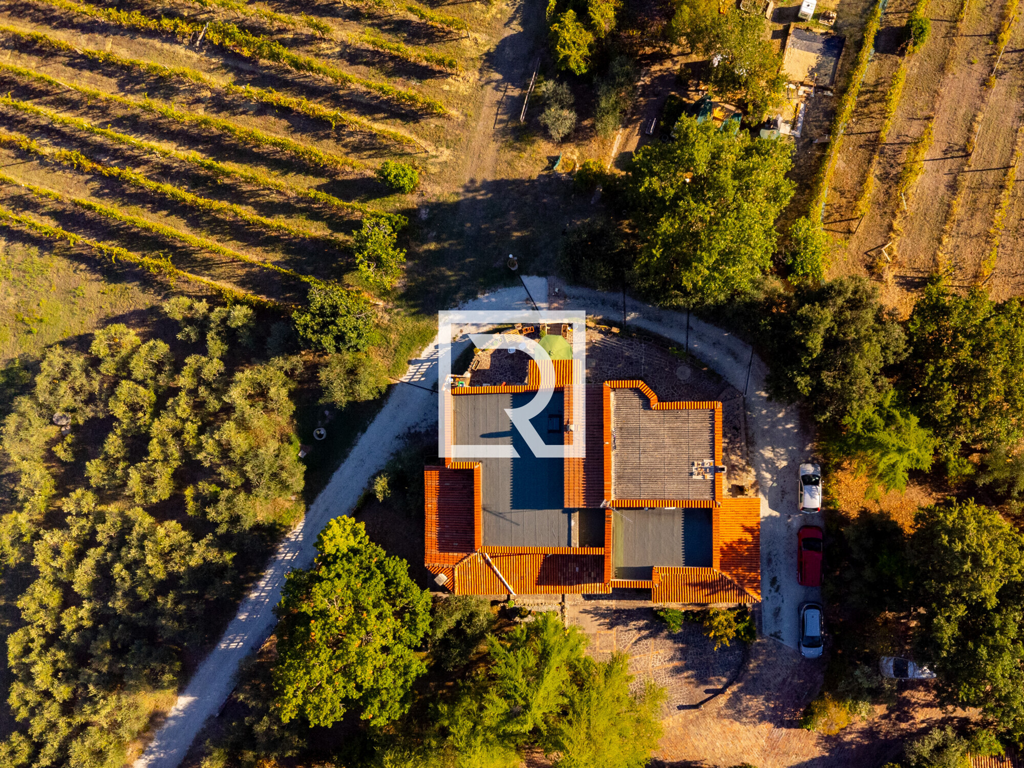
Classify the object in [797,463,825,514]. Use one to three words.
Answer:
car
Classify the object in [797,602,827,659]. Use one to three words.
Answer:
car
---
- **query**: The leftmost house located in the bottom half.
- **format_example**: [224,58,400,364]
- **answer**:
[424,359,763,604]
